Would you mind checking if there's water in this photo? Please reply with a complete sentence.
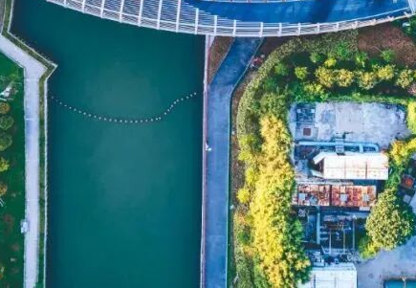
Yes, water shows up in the scene.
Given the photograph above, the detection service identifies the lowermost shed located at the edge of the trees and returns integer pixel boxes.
[302,259,357,288]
